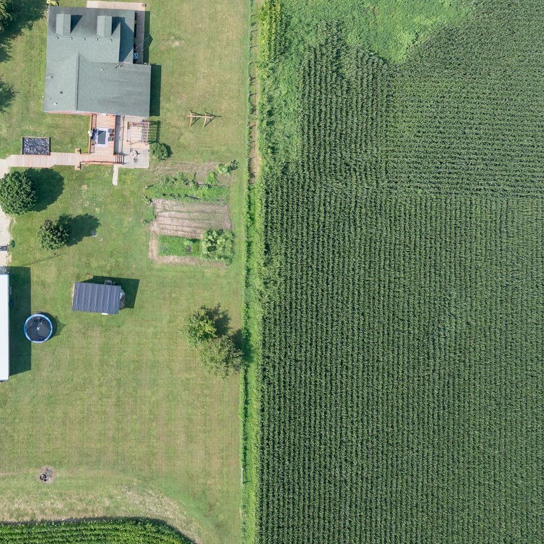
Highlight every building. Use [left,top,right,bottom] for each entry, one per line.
[73,282,121,315]
[43,6,152,119]
[0,274,13,381]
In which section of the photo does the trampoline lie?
left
